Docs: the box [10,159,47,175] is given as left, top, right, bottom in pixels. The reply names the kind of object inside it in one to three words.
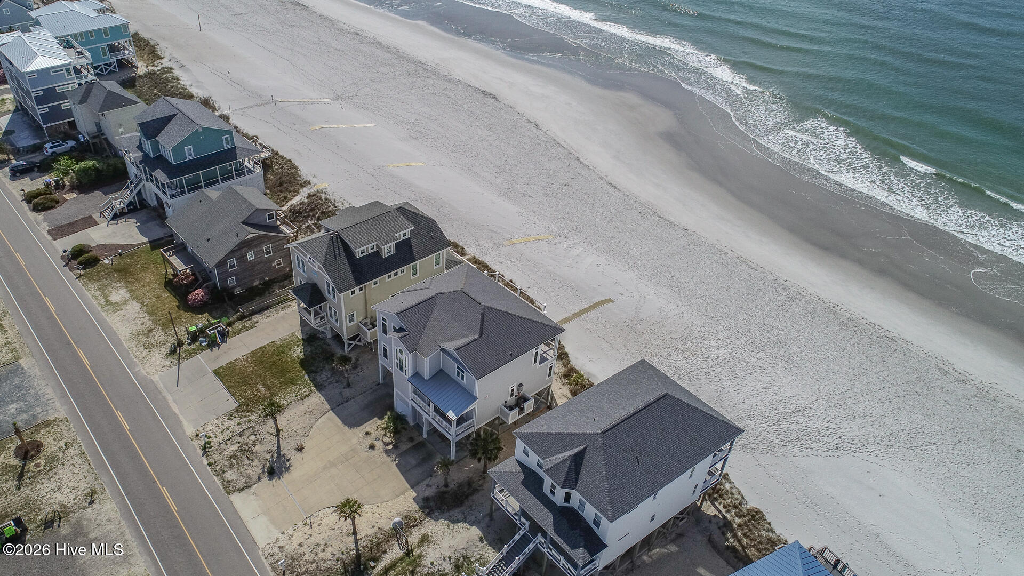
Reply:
car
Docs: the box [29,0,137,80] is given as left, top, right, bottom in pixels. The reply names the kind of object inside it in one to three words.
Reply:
house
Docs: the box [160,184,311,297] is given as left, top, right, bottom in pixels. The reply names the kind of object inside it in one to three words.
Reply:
house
